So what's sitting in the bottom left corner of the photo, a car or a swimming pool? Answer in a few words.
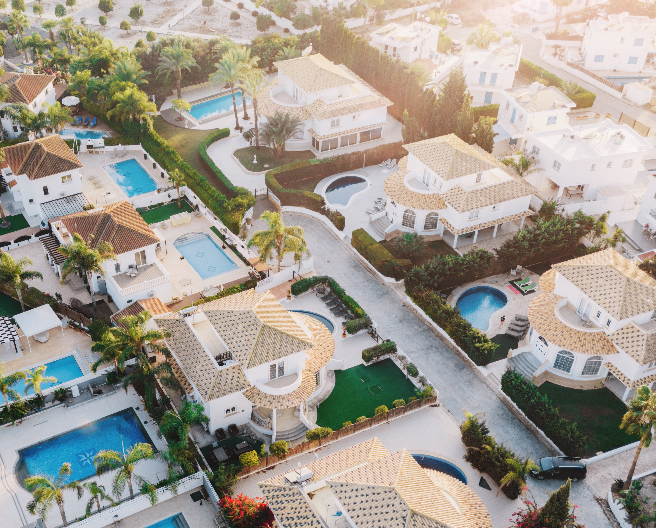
swimming pool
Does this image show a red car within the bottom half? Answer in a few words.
No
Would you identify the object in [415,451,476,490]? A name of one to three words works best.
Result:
swimming pool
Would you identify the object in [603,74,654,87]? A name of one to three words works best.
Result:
swimming pool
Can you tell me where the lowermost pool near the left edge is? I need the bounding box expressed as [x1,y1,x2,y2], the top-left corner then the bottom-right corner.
[14,407,153,495]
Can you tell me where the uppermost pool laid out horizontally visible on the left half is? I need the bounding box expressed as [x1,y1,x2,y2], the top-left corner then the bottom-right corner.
[187,89,257,123]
